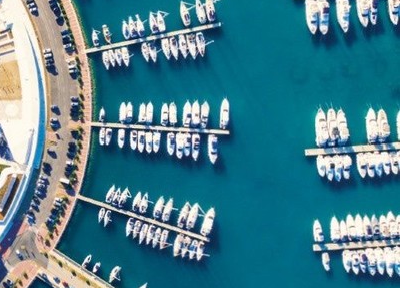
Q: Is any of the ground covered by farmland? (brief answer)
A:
No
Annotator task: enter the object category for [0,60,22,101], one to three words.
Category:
sports court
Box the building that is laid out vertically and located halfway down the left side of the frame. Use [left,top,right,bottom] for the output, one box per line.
[0,25,45,245]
